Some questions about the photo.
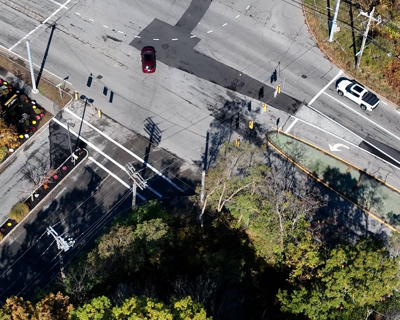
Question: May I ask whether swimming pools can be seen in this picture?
No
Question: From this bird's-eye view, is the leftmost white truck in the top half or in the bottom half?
top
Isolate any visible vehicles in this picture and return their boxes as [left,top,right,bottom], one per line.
[141,48,157,73]
[337,81,381,113]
